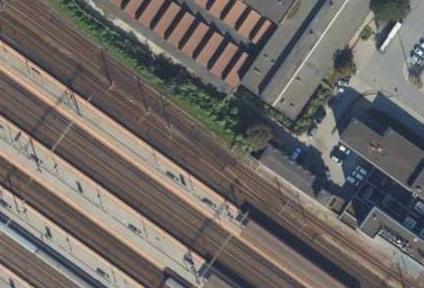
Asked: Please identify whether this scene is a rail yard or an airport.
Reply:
rail yard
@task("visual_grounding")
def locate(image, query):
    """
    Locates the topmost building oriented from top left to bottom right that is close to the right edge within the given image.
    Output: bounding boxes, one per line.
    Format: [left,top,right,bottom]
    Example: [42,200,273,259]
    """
[340,117,424,190]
